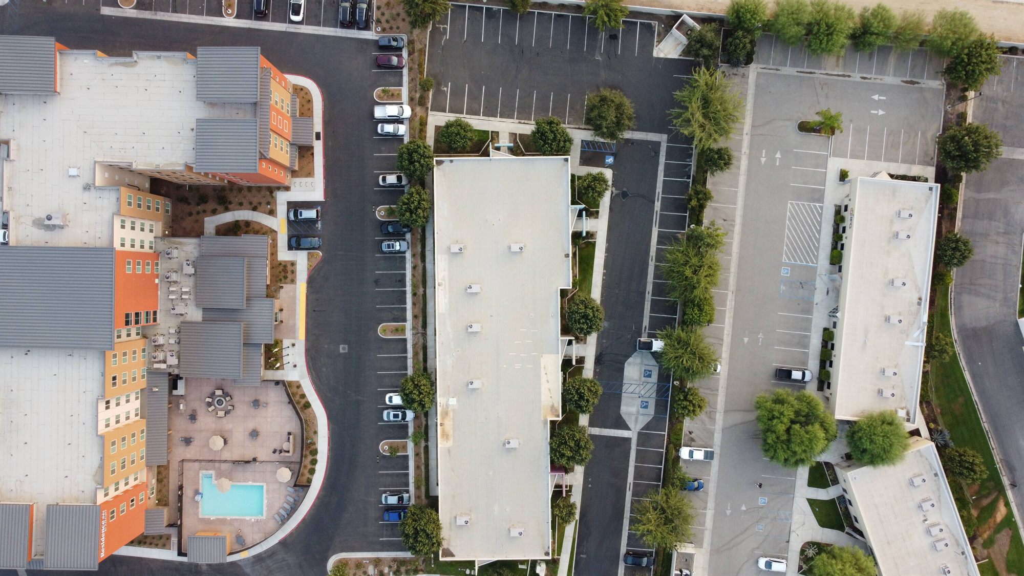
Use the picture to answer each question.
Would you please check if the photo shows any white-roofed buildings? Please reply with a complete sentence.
Yes, there's a white-roofed building here.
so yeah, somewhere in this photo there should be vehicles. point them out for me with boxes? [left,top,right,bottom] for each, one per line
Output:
[635,337,670,353]
[384,508,409,520]
[0,229,8,244]
[256,0,269,19]
[383,408,416,422]
[381,220,411,234]
[381,239,409,253]
[374,105,411,120]
[756,556,787,571]
[377,122,407,137]
[385,392,411,406]
[0,214,8,228]
[377,54,406,69]
[678,445,714,460]
[339,0,353,28]
[382,491,411,505]
[379,173,409,187]
[623,552,654,567]
[378,36,405,50]
[290,207,322,221]
[705,360,721,374]
[290,0,304,22]
[291,236,323,250]
[773,367,812,383]
[355,0,369,29]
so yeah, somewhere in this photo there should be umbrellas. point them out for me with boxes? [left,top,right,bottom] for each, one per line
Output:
[276,467,292,482]
[216,477,231,493]
[209,435,225,451]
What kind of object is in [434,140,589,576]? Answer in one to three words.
building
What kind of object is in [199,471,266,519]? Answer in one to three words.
swimming pool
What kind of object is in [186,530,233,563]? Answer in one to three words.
building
